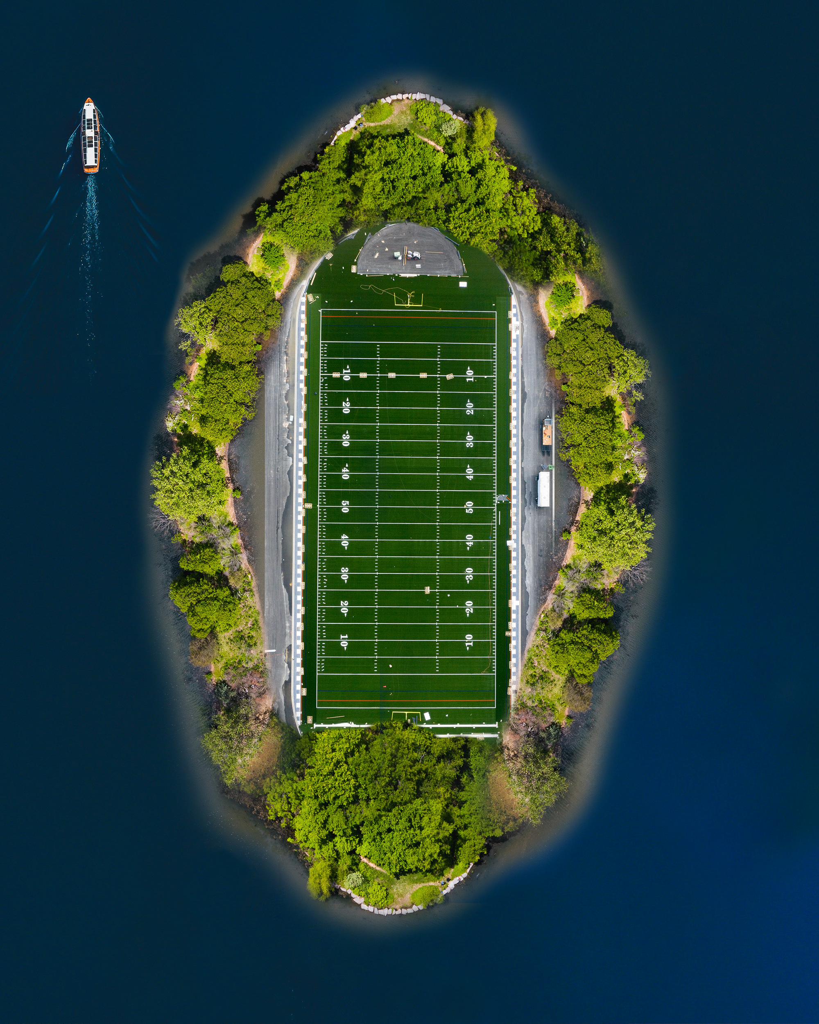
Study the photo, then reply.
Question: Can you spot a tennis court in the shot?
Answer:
No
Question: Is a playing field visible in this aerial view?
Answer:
Yes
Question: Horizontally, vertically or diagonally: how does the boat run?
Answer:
vertically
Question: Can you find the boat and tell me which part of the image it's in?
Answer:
top left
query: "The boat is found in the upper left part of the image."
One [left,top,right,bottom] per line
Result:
[80,98,101,174]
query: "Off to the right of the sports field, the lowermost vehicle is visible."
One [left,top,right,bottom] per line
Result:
[538,472,552,508]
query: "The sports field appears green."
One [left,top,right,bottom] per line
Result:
[300,219,512,740]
